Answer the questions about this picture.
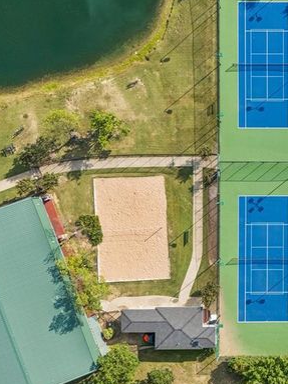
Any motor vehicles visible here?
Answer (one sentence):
No, no motor vehicle is visible in the view.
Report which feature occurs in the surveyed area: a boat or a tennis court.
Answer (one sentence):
The one in the frame is a tennis court.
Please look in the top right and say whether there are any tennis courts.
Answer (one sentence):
Yes, a tennis court shows up in the top right.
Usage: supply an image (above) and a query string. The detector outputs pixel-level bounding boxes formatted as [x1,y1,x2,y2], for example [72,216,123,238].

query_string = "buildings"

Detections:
[0,196,106,384]
[121,306,216,350]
